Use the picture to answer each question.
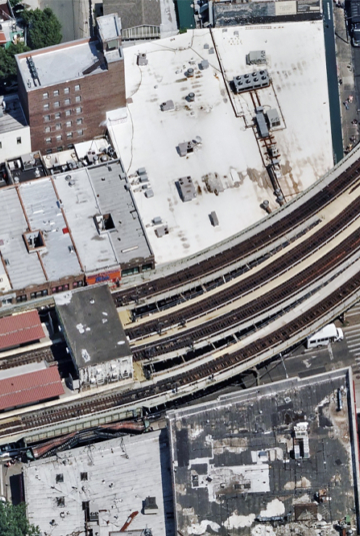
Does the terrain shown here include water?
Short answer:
No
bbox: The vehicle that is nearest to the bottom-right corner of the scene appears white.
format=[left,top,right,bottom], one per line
[306,327,347,353]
